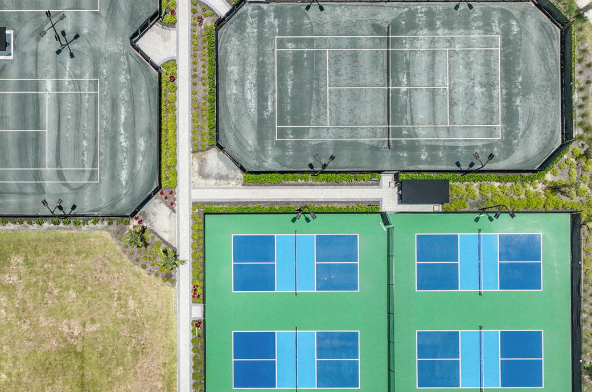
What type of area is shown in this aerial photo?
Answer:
sports ground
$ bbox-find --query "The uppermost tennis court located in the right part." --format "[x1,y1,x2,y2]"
[219,1,561,170]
